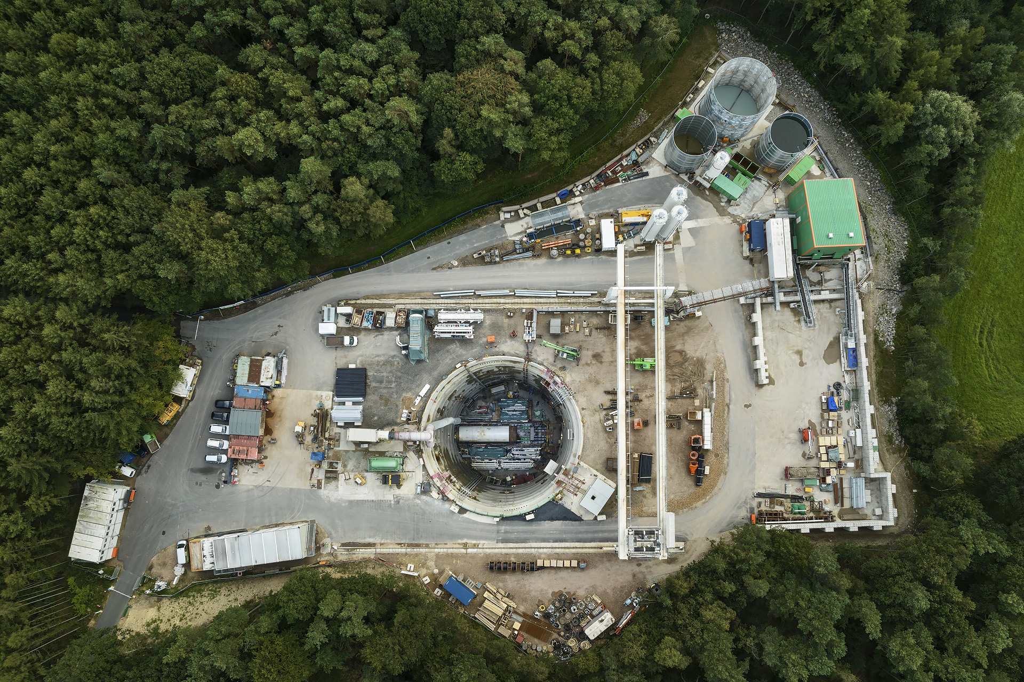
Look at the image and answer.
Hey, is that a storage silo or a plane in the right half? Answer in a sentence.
Visible in the right half is a storage silo.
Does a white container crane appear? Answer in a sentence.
Yes, a white container crane can be made out from above.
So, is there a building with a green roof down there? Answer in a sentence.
Yes, I can see a building with a green roof in this picture.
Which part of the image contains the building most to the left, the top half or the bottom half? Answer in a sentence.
Seen from above, the building most to the left lies in the bottom half of the view.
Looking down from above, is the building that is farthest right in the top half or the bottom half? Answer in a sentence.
It is in the top half that the building that is farthest right appears.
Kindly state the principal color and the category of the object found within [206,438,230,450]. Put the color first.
white vehicle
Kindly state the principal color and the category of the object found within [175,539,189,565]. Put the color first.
white vehicle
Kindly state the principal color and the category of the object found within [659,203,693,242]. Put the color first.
white silo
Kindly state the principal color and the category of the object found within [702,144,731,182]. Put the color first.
white silo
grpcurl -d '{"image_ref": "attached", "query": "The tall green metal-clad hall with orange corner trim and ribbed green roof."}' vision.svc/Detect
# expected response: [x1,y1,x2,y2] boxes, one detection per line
[789,176,866,257]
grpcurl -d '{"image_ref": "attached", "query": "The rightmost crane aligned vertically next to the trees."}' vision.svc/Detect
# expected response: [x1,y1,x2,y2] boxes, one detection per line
[592,244,671,567]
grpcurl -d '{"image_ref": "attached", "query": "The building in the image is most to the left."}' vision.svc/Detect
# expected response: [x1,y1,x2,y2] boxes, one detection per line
[69,481,131,562]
